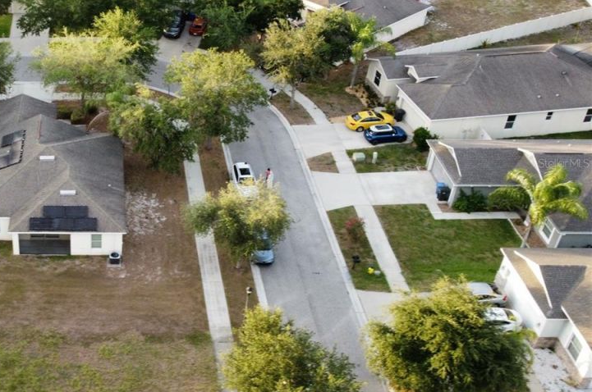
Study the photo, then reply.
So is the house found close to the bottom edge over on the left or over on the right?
right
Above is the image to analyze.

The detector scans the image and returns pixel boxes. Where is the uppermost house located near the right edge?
[363,45,592,140]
